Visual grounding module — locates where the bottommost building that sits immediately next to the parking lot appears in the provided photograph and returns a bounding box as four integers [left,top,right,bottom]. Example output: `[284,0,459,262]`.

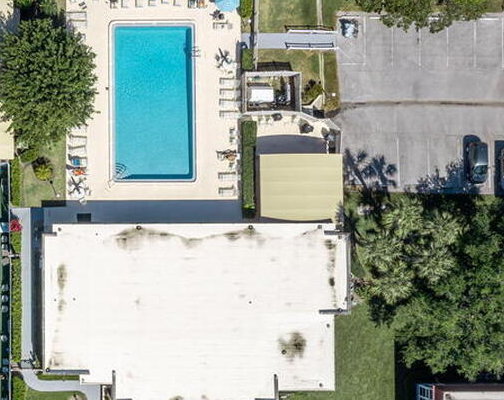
[42,224,351,400]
